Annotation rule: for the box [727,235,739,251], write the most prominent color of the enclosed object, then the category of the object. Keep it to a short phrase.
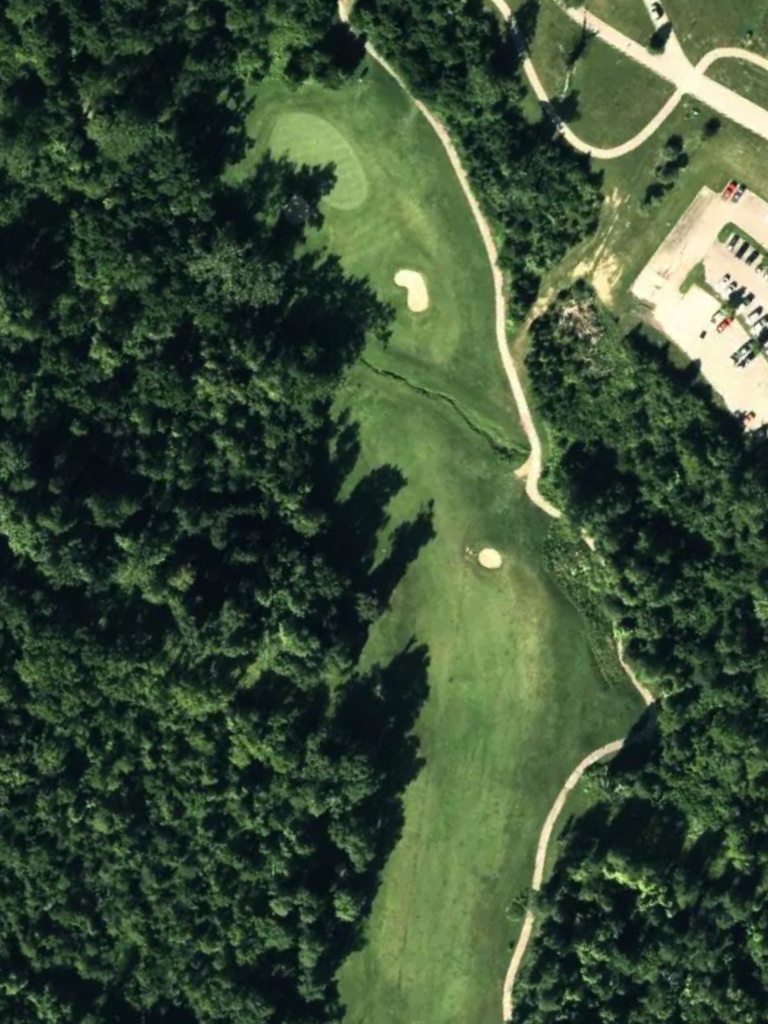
gray vehicle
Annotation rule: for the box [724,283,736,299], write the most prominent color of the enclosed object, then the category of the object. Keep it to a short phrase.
white vehicle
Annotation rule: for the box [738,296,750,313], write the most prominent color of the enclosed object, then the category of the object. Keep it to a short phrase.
white vehicle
